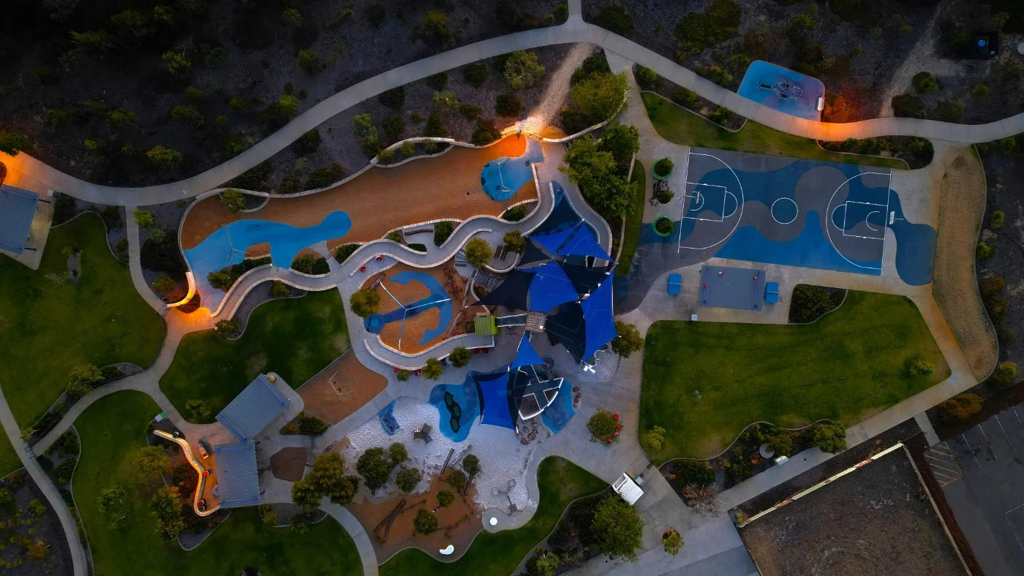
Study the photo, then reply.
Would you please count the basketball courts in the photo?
3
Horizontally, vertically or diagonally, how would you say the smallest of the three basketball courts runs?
horizontally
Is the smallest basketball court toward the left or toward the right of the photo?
right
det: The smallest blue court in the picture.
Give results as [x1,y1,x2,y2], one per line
[714,210,883,275]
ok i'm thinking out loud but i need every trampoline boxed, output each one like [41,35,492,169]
[444,391,461,434]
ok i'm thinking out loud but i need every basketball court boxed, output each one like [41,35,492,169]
[636,159,937,285]
[714,210,883,275]
[616,146,891,317]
